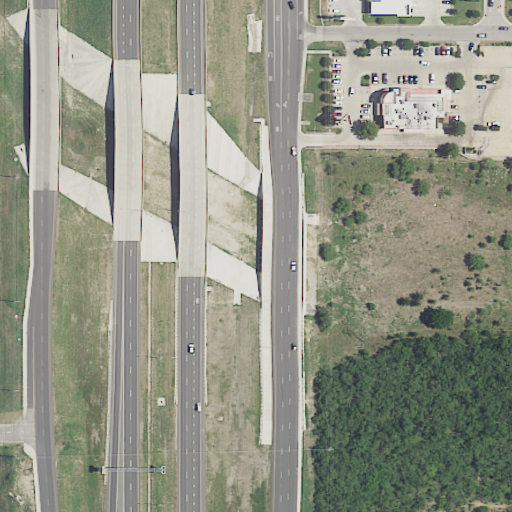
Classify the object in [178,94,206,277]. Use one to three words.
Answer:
bridge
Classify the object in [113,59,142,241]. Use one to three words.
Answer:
bridge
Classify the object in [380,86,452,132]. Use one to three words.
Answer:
building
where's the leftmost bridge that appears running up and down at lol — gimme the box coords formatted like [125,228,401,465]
[30,9,60,190]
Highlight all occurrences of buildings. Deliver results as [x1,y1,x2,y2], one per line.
[362,0,412,15]
[380,86,452,132]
